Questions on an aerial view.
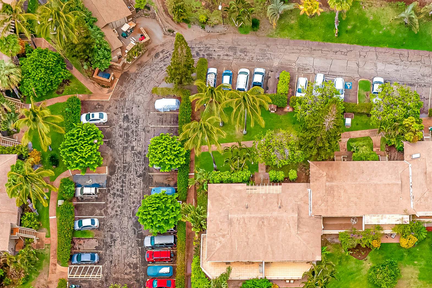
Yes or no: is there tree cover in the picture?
Yes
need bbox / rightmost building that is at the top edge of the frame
[89,0,139,70]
